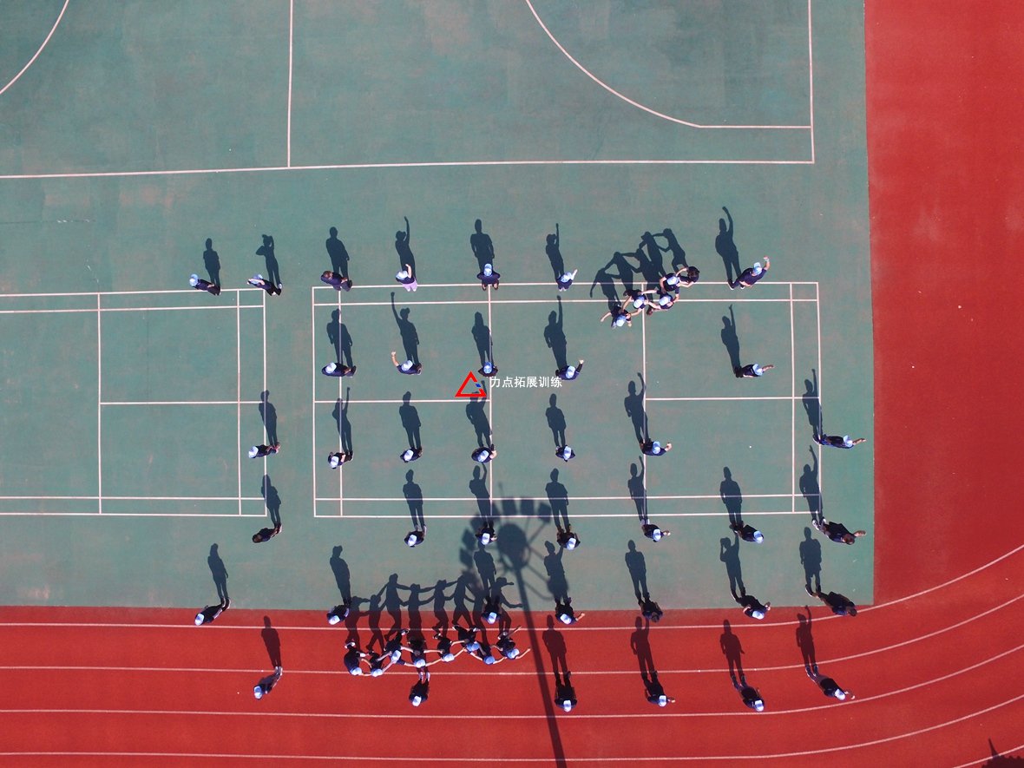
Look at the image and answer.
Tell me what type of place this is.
sports ground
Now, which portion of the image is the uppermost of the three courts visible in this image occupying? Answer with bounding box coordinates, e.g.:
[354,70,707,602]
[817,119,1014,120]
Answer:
[0,0,815,179]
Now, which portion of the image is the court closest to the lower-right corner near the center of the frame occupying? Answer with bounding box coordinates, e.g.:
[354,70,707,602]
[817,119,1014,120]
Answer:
[312,281,822,518]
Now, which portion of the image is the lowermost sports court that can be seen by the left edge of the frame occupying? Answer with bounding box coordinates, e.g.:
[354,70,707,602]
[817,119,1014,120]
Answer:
[0,288,267,517]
